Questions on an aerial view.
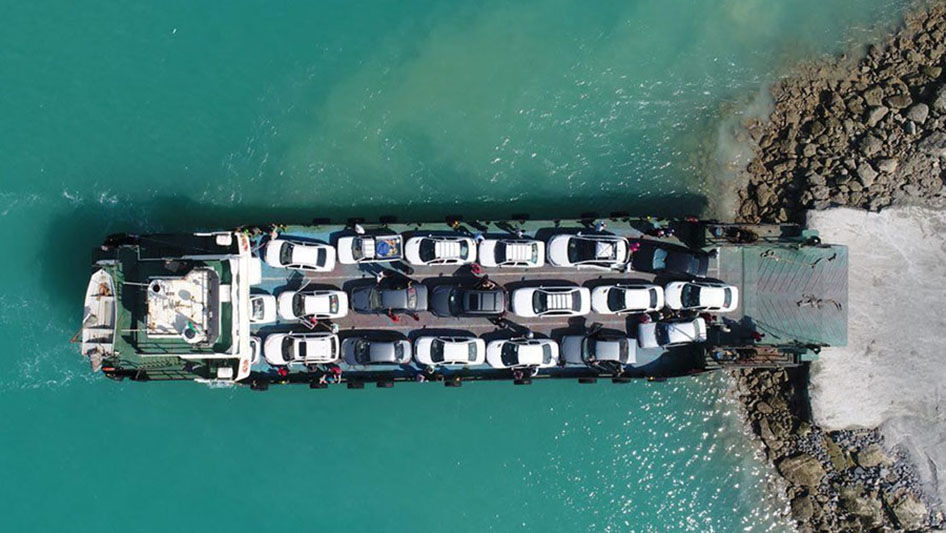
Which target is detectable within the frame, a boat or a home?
boat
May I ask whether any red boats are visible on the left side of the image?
No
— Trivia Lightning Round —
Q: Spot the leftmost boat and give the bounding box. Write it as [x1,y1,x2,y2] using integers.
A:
[71,264,115,379]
